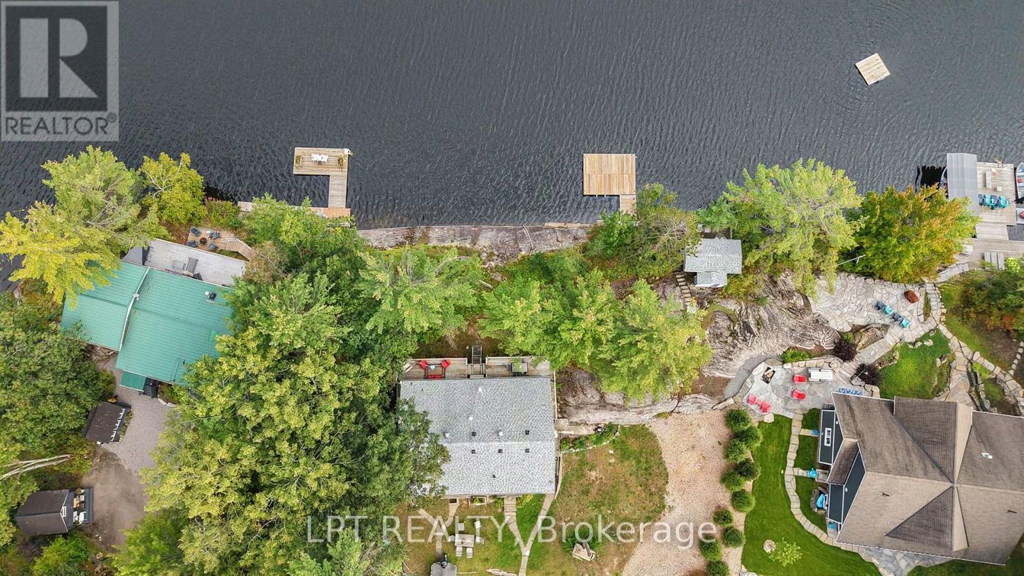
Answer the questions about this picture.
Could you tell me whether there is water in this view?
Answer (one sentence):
Yes, some water is visible.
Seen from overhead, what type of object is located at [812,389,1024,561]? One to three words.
house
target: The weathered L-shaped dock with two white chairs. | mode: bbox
[294,147,349,208]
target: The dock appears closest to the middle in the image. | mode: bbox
[583,153,637,220]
